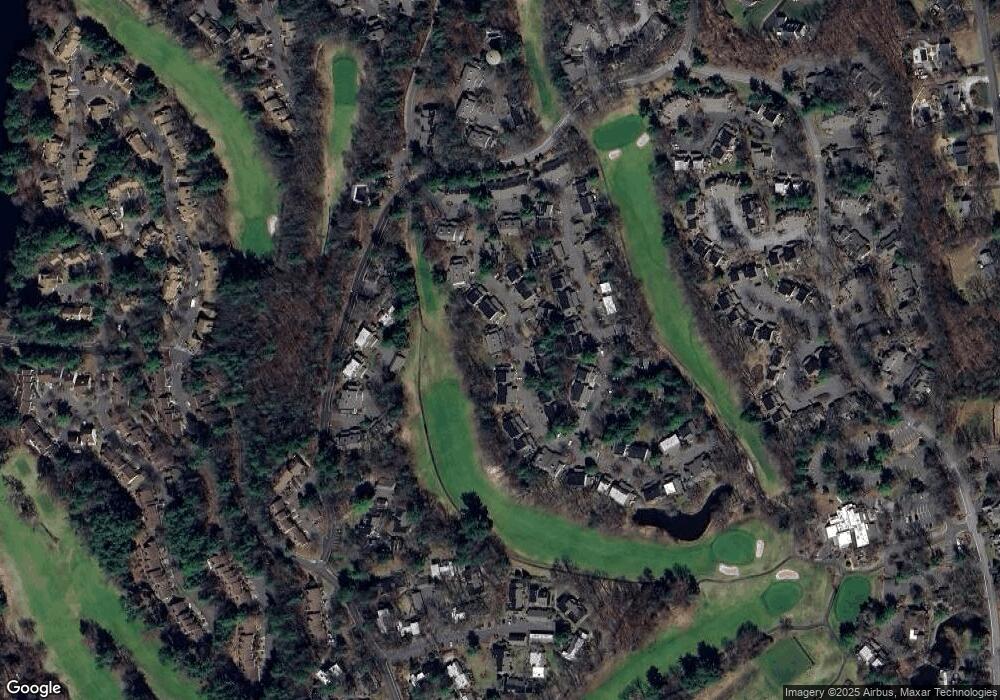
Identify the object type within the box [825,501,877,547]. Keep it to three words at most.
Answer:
building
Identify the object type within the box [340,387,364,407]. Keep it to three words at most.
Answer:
house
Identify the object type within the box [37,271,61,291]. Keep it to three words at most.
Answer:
house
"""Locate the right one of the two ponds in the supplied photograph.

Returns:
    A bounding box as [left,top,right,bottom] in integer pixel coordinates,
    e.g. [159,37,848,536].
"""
[911,612,984,691]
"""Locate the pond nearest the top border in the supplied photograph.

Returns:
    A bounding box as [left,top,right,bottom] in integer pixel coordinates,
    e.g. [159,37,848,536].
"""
[633,484,733,540]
